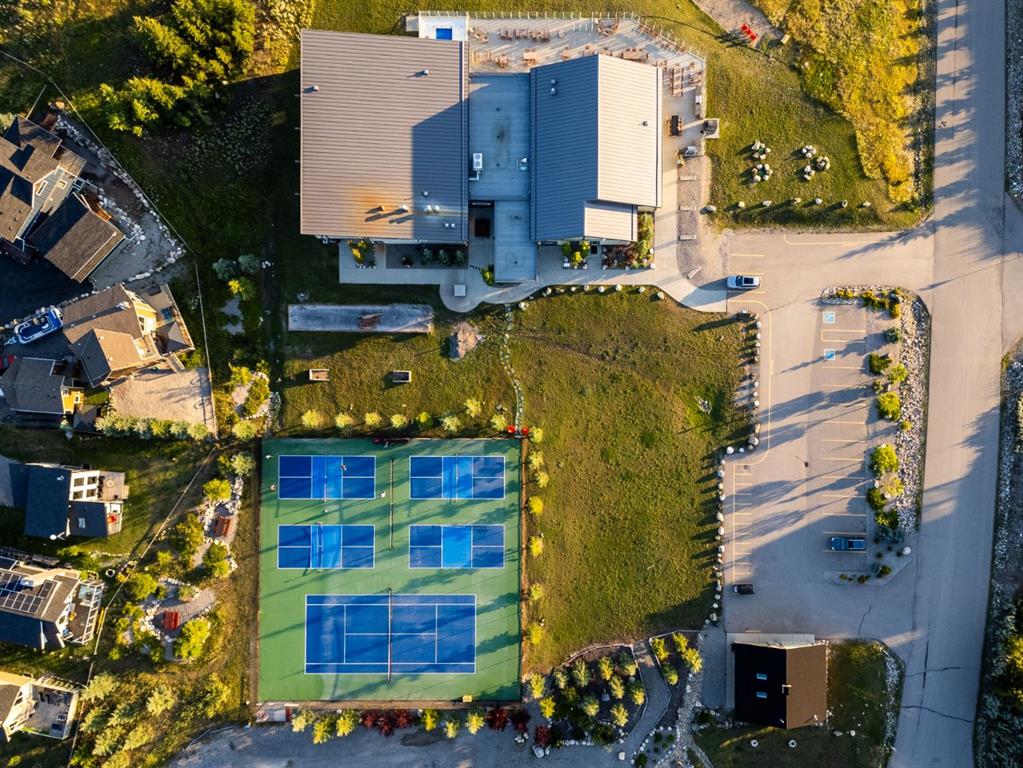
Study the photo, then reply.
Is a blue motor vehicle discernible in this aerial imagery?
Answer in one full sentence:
Yes, the picture does show a blue motor vehicle.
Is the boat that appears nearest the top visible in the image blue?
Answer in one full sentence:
Yes, the boat that appears nearest the top appears blue.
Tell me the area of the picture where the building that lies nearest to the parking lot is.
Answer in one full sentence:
The building that lies nearest to the parking lot is located in the bottom right region of the scene.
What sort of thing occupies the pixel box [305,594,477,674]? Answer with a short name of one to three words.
tennis court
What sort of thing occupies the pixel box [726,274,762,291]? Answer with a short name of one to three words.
car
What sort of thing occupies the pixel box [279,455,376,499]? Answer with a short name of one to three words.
sports court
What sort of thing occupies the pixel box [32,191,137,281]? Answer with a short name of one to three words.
building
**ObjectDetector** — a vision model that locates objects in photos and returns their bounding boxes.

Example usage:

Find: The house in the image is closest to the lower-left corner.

[0,665,92,741]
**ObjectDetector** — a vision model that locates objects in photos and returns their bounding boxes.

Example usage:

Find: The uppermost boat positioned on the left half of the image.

[14,309,63,341]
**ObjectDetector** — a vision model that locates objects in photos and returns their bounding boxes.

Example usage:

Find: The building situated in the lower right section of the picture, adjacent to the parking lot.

[732,636,827,729]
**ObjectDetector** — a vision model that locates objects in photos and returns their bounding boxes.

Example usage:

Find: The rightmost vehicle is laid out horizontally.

[827,535,868,553]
